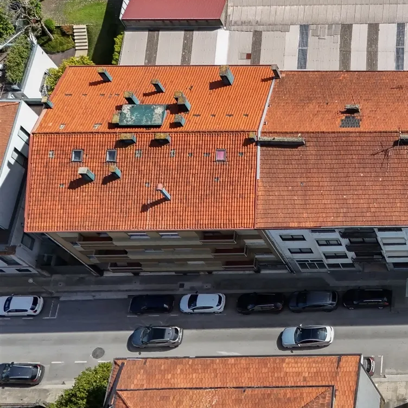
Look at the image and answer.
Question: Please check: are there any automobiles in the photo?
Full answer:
Yes, the frame does contain an automobile.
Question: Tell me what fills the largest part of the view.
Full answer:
For the most part, this view shows buildings.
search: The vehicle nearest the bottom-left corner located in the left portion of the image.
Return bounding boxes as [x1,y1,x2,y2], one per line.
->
[0,359,49,386]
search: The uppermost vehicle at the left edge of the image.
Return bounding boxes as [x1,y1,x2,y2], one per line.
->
[0,293,47,317]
